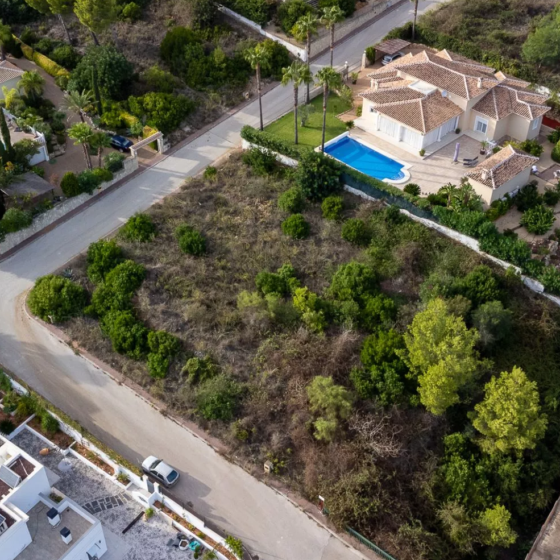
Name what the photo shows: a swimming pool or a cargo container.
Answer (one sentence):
This aerial view contains a swimming pool.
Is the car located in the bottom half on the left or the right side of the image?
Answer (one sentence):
The car located in the bottom half sits on the left side.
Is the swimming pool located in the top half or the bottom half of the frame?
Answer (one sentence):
Seen from above, the swimming pool lies in the top half of the view.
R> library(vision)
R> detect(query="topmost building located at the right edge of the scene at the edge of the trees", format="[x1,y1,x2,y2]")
[358,48,553,151]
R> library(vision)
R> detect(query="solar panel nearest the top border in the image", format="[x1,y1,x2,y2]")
[0,465,22,489]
